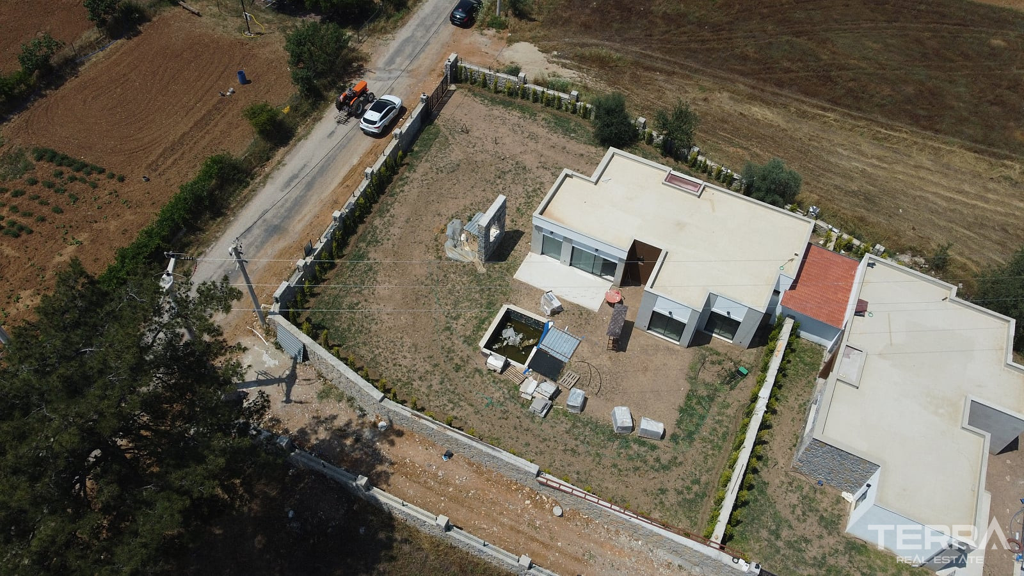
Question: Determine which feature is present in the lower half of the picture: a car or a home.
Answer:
home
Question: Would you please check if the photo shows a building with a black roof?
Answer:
No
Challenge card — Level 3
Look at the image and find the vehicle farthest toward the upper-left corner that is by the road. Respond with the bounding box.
[327,82,372,128]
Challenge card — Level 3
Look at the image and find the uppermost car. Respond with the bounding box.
[455,0,486,25]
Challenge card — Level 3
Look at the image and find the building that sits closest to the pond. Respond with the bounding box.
[530,147,816,348]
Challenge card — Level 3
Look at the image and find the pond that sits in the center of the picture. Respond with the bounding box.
[481,301,552,369]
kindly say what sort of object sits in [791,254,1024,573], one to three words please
house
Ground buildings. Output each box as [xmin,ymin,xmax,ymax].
[791,254,1024,573]
[530,147,816,348]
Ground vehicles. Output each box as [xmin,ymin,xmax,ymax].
[327,82,372,128]
[455,0,486,25]
[360,94,404,133]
